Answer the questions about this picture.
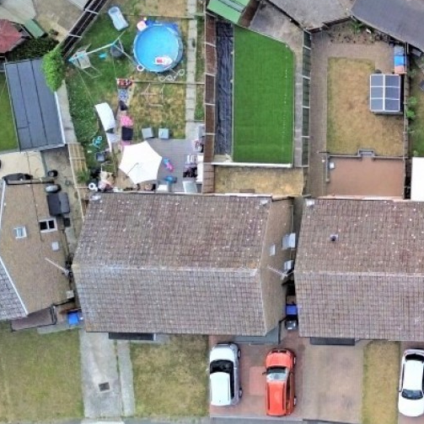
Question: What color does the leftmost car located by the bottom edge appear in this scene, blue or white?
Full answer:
The color of the leftmost car located by the bottom edge is white.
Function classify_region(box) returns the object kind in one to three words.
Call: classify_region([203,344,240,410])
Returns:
car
